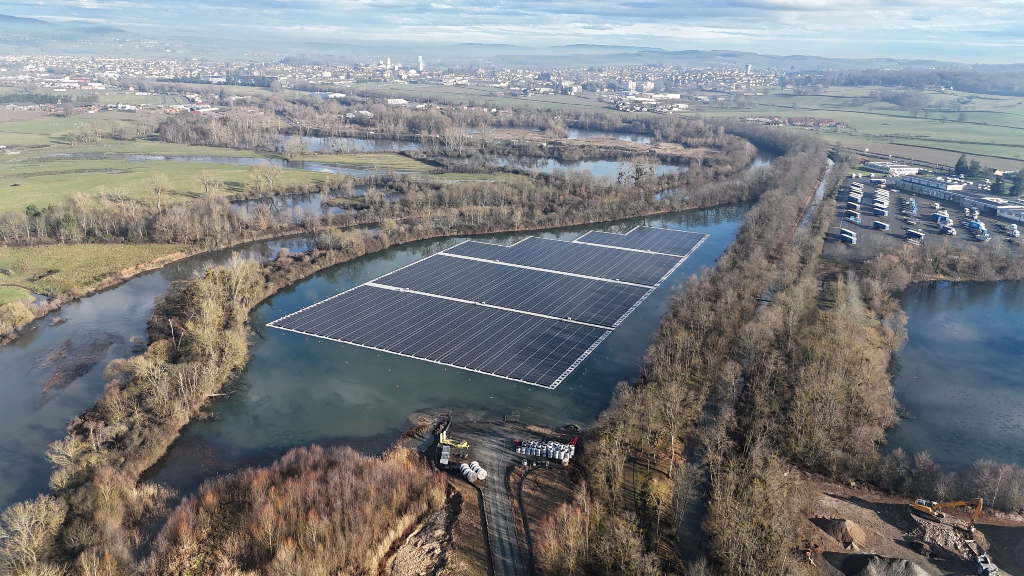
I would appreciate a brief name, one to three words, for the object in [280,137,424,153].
pond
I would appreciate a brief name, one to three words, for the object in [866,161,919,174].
building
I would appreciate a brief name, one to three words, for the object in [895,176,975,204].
building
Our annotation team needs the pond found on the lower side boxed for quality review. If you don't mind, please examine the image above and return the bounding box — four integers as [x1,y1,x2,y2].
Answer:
[882,279,1024,494]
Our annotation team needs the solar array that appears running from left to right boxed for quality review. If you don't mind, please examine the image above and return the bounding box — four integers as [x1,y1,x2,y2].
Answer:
[267,226,710,389]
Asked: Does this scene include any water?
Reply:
Yes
